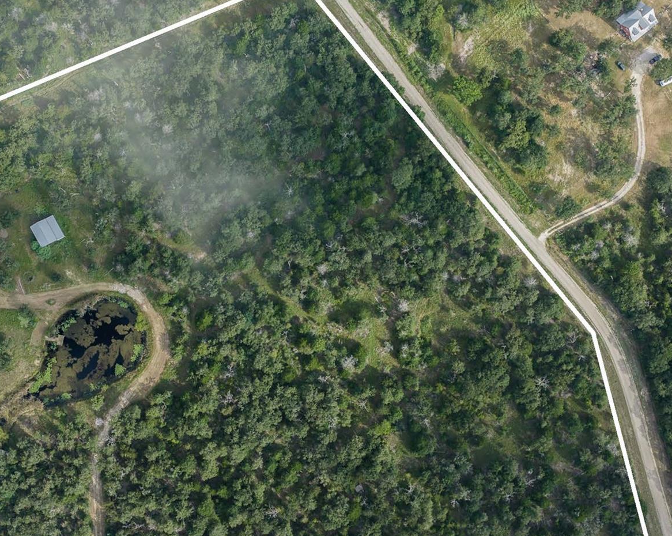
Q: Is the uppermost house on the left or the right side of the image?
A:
right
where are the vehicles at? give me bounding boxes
[649,52,664,63]
[617,59,628,71]
[660,77,672,86]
